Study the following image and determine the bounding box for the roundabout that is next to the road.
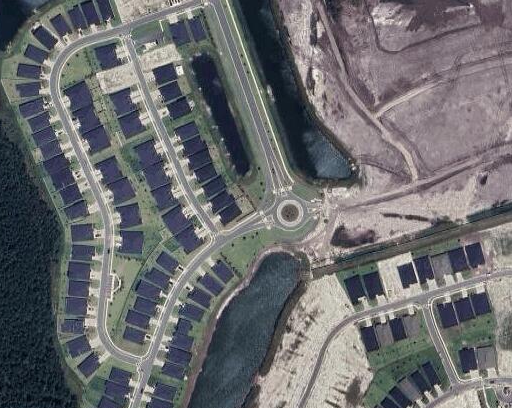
[264,184,315,231]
